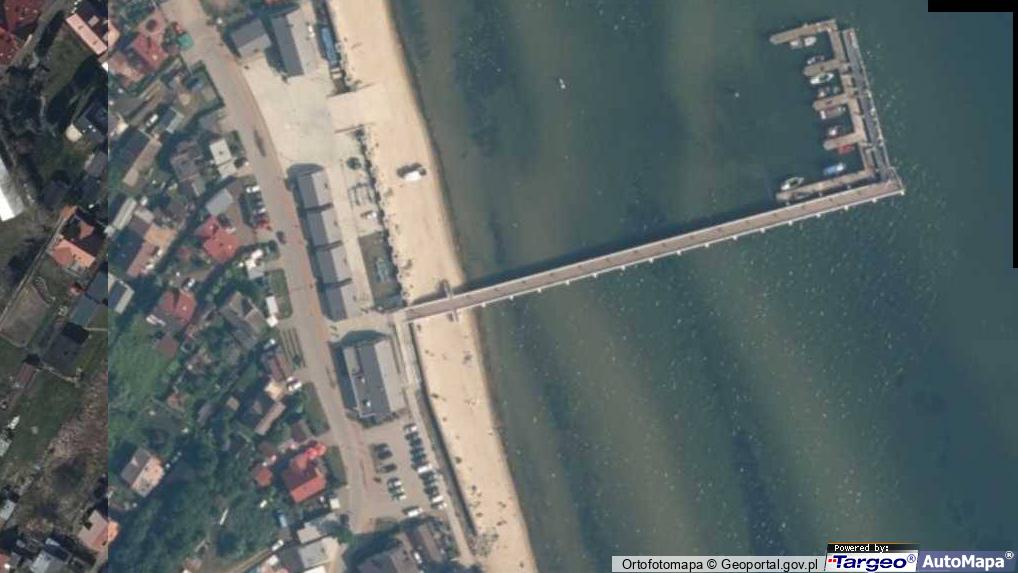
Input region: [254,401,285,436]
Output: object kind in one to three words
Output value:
shed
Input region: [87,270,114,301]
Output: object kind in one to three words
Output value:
house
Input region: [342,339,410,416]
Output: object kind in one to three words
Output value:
building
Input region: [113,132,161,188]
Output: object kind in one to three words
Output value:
barn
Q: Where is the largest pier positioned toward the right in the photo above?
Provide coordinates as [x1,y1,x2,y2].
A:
[403,177,906,322]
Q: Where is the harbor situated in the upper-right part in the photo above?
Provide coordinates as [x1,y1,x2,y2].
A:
[769,20,897,200]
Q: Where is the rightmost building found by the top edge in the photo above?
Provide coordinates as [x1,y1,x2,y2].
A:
[271,9,319,78]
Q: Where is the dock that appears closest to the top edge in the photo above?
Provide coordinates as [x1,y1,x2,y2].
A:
[770,20,833,44]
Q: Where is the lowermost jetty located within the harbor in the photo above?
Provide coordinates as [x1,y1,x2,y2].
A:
[776,170,870,199]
